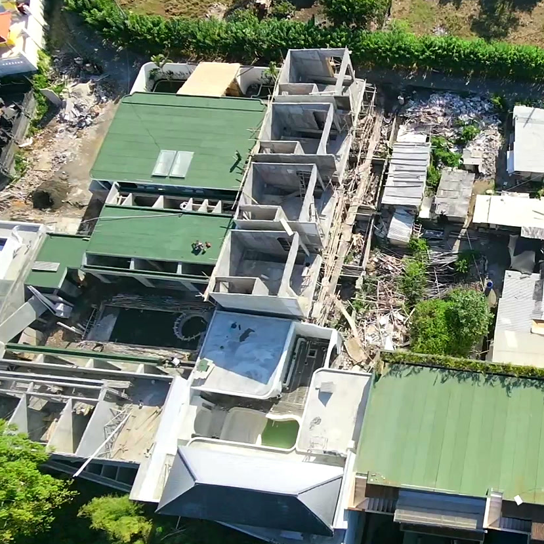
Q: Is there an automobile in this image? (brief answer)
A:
No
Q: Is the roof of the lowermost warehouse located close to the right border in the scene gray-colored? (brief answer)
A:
No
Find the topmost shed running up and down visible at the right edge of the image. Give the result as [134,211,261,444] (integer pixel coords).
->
[512,107,544,183]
